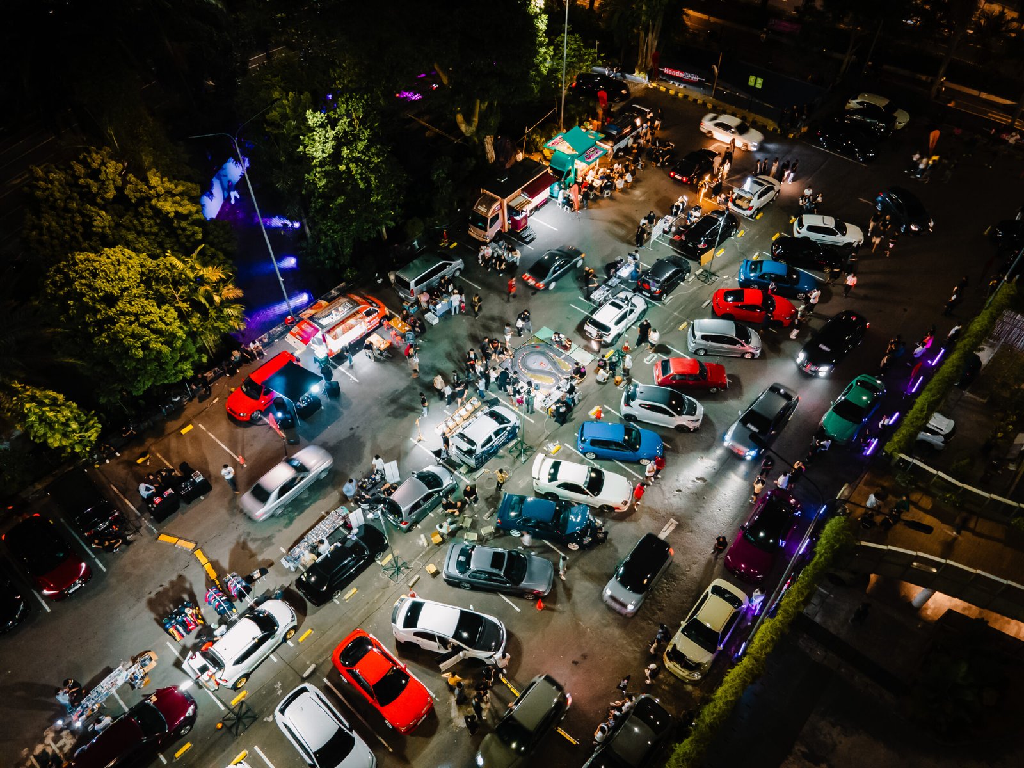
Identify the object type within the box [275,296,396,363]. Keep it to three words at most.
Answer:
van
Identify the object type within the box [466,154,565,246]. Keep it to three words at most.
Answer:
truck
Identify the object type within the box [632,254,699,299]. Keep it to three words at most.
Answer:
car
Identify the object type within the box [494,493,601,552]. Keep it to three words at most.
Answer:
car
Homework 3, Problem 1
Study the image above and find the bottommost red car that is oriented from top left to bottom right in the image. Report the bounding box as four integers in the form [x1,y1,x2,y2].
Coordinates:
[327,623,434,740]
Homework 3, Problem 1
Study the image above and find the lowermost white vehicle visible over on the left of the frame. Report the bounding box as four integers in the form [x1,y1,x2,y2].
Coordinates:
[270,672,385,768]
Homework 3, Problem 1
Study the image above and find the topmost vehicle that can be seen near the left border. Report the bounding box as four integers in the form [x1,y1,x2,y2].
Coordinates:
[36,465,121,545]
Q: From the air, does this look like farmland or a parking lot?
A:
parking lot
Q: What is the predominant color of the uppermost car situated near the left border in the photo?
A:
black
